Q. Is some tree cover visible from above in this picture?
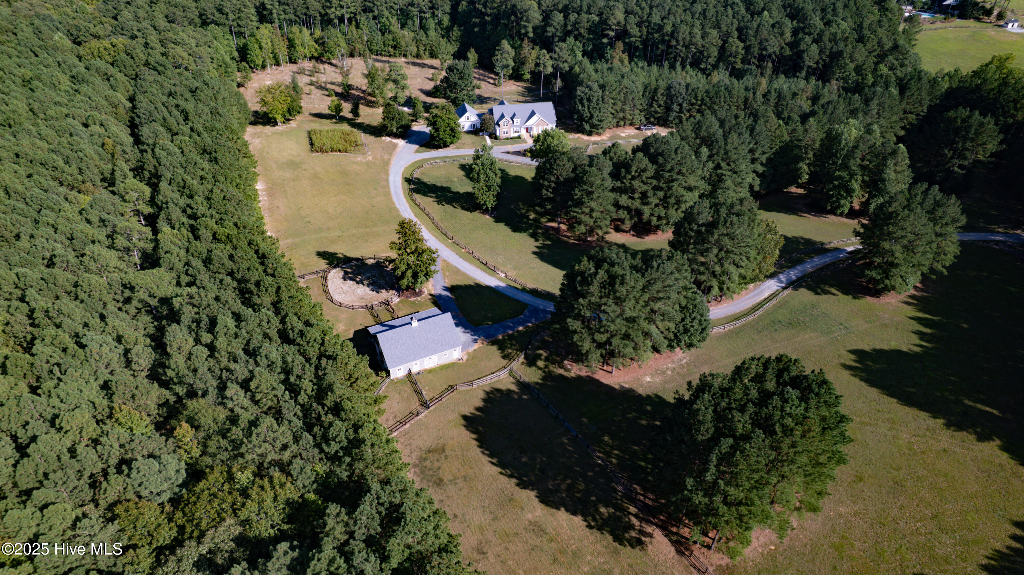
Yes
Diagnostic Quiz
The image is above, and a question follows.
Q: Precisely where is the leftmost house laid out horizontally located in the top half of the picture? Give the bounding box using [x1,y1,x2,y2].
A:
[456,99,556,139]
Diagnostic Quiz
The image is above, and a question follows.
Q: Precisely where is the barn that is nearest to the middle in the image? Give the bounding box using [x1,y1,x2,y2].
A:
[366,309,463,380]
